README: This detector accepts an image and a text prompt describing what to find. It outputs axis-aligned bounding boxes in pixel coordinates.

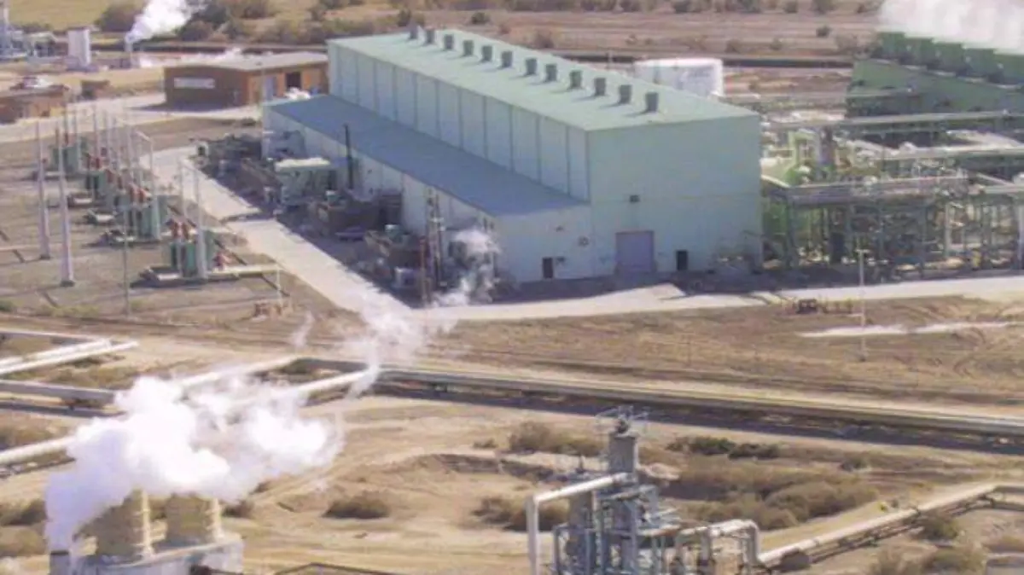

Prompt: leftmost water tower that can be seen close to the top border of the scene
[62,26,96,73]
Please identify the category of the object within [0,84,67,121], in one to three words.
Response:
building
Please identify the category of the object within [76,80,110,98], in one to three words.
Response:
shed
